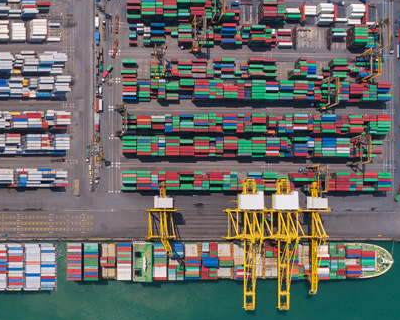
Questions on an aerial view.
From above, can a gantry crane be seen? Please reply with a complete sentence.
Yes, a gantry crane can be made out from above.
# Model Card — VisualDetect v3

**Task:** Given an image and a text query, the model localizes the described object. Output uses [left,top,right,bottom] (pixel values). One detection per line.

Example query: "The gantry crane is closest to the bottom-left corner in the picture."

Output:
[137,182,179,251]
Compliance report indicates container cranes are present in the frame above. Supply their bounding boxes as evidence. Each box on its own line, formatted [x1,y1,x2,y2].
[137,182,179,251]
[148,42,165,77]
[252,176,305,312]
[187,15,206,51]
[305,161,328,193]
[347,131,371,163]
[111,102,128,135]
[365,15,390,51]
[316,74,339,109]
[357,45,381,79]
[285,185,332,294]
[216,176,268,312]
